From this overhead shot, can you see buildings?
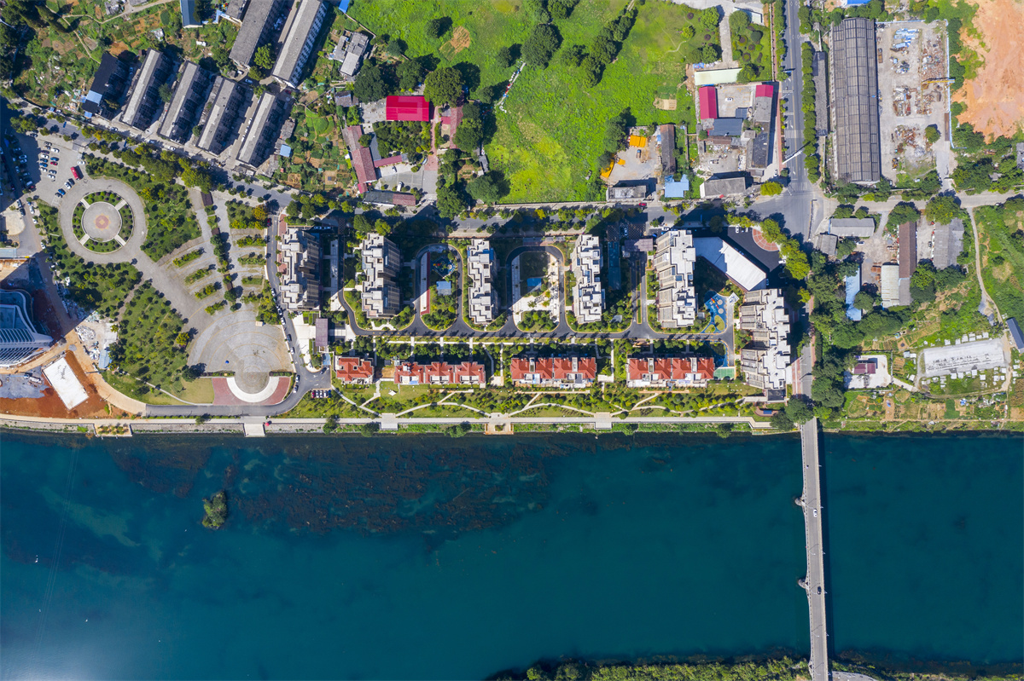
Yes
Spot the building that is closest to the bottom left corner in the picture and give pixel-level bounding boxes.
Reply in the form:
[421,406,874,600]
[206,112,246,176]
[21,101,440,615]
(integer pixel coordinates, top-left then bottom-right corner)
[42,357,93,411]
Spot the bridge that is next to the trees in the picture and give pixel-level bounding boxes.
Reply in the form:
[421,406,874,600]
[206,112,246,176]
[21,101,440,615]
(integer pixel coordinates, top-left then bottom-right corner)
[789,419,829,681]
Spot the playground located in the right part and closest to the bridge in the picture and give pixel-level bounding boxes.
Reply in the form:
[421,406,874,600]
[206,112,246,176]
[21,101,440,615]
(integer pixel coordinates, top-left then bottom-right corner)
[702,291,728,333]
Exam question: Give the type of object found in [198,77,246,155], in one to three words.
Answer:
building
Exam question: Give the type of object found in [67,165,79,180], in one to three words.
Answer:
vehicle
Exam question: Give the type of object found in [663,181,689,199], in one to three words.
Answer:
shed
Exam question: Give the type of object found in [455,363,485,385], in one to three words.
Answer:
house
